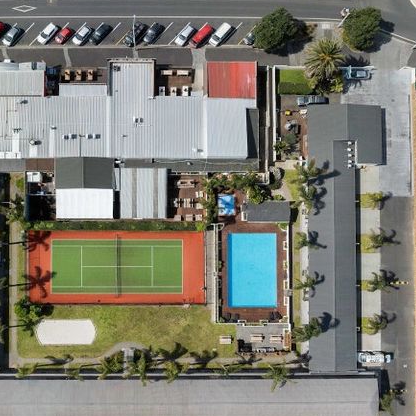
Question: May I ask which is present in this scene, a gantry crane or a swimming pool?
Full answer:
The image shows a swimming pool.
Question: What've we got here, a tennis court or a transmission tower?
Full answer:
Of the two, only a tennis court appears.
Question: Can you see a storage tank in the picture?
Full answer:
No, there isn't any storage tank down there.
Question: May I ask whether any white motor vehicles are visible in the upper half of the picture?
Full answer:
Yes, a white motor vehicle can be seen in the upper half of the picture.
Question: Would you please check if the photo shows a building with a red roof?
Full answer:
Yes, there is a building with a red roof in the image.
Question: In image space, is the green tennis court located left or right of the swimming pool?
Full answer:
Relative to the swimming pool, the green tennis court lies to the left.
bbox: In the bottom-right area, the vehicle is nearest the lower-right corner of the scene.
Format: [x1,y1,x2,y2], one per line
[358,353,393,367]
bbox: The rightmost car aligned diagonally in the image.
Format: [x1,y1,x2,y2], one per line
[241,28,258,48]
